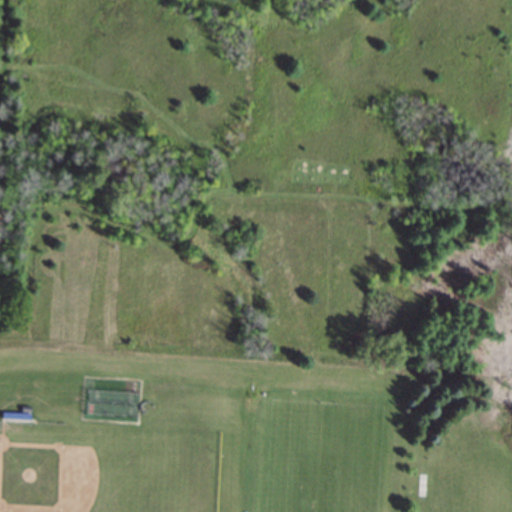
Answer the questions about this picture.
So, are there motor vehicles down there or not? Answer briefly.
No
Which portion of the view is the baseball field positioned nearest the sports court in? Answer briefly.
bottom left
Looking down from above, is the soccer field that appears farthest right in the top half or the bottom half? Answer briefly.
bottom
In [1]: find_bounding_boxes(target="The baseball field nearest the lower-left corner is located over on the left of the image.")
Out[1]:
[0,435,99,512]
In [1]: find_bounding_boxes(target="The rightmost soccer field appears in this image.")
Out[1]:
[260,400,388,512]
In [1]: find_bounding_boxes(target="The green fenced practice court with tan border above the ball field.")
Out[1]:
[82,378,142,426]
